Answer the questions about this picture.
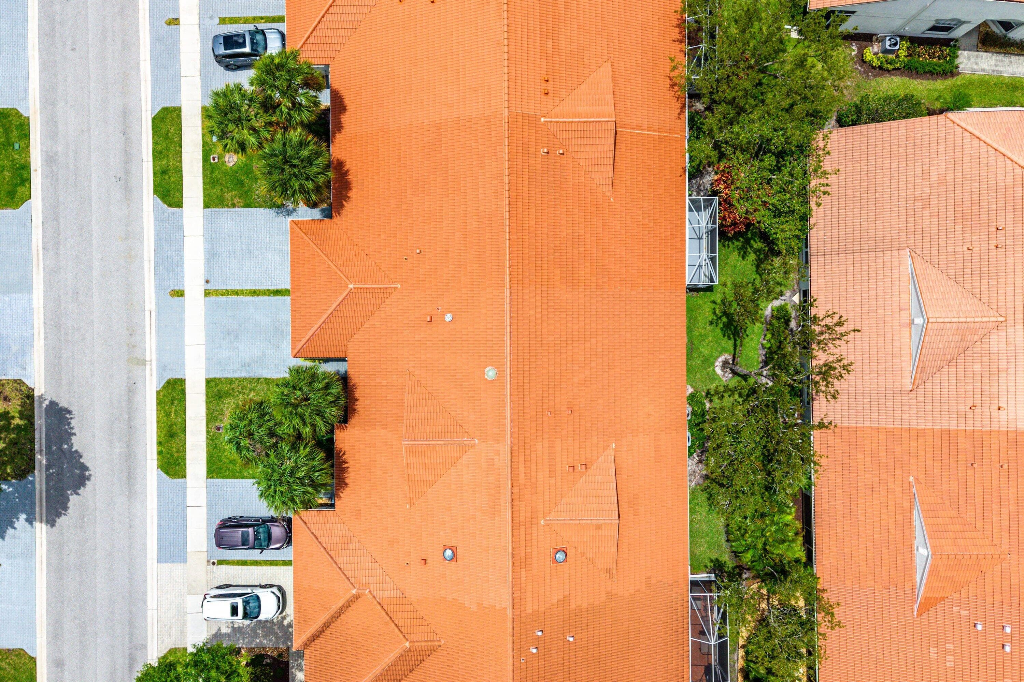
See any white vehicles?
Yes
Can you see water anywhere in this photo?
No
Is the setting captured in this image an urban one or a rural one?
urban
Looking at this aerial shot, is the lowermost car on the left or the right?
left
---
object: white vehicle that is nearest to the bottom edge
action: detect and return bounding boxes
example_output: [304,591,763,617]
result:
[200,586,284,630]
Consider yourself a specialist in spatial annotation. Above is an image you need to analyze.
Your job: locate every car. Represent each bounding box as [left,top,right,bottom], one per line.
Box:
[206,22,281,70]
[200,586,284,630]
[213,518,294,560]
